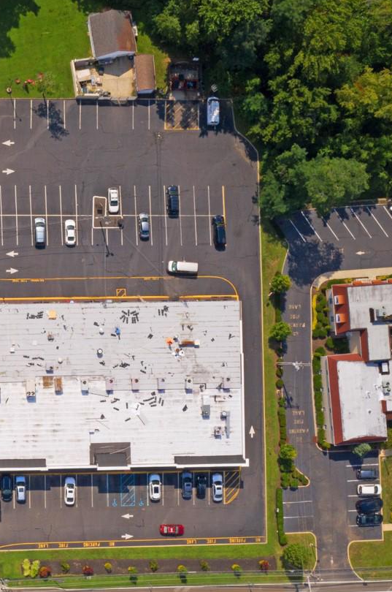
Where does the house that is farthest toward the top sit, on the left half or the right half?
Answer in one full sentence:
The house that is farthest toward the top sits on the left side.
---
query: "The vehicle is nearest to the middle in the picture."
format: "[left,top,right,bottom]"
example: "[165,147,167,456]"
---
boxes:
[167,261,200,274]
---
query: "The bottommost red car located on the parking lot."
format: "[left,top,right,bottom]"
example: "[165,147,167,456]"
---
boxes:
[158,524,185,538]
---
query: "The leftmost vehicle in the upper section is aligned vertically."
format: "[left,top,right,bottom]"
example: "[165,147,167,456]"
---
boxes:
[33,217,46,248]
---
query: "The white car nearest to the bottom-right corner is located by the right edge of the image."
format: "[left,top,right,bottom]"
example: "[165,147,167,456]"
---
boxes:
[354,484,383,496]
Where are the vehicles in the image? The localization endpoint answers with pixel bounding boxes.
[194,473,208,498]
[158,524,185,538]
[64,476,77,505]
[353,513,384,527]
[210,473,224,501]
[179,472,194,500]
[354,484,383,496]
[64,218,77,245]
[205,98,220,127]
[354,467,378,480]
[166,184,180,216]
[167,261,200,274]
[148,474,162,502]
[353,499,383,513]
[33,217,46,248]
[212,216,226,248]
[107,186,121,213]
[138,212,150,241]
[0,475,13,502]
[14,475,26,502]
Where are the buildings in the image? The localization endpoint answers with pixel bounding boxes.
[131,53,155,96]
[86,8,142,61]
[319,277,392,446]
[0,300,252,475]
